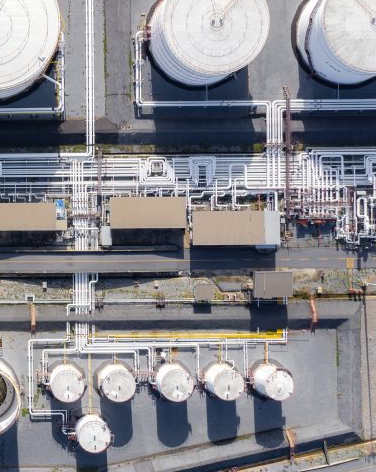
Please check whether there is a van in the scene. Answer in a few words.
No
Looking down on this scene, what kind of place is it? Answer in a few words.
industrial area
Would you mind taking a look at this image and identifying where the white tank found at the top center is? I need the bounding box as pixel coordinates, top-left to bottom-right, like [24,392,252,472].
[144,0,272,91]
